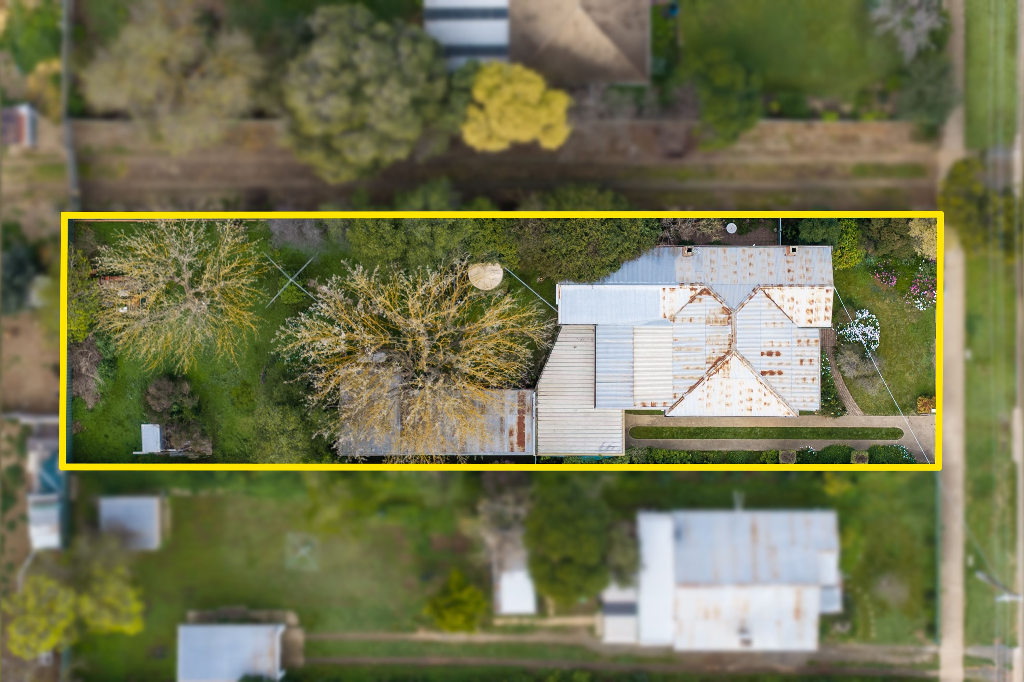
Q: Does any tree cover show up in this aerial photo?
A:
Yes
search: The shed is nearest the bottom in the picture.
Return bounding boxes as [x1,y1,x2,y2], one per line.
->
[178,620,283,682]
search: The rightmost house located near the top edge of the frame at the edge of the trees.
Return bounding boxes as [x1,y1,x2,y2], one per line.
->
[510,0,652,86]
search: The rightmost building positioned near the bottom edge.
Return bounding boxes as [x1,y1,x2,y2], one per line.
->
[638,509,842,652]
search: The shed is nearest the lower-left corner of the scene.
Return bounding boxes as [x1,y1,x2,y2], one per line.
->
[27,495,63,548]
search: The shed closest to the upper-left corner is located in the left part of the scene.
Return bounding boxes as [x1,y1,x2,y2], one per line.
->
[0,104,40,148]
